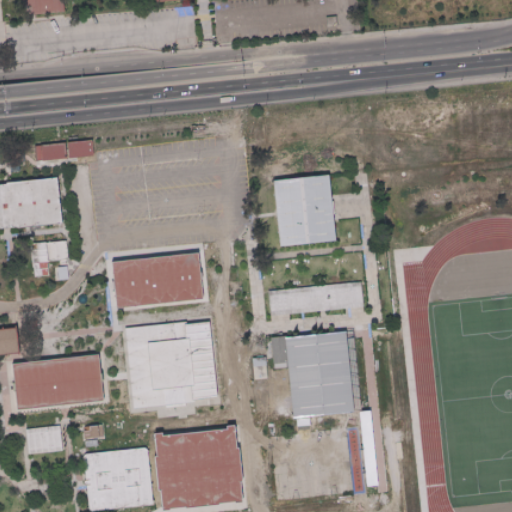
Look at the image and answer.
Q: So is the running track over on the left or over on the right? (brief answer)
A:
right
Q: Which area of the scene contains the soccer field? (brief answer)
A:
bottom right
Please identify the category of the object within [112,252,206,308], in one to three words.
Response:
building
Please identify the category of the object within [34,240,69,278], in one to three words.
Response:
building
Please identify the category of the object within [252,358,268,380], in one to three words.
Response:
shed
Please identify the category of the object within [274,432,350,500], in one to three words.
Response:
sports court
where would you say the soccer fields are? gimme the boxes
[428,294,512,507]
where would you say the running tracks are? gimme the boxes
[404,221,512,512]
